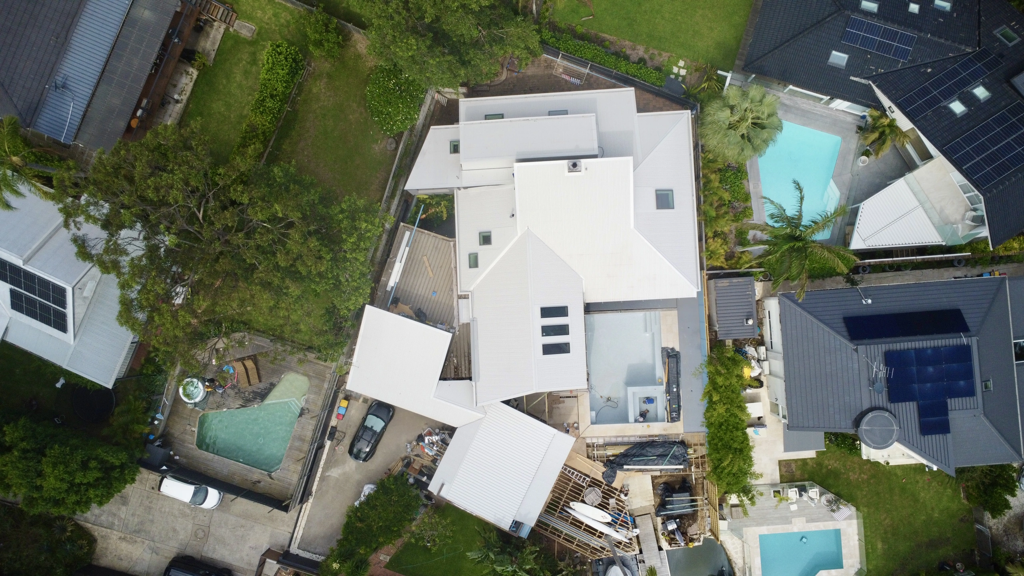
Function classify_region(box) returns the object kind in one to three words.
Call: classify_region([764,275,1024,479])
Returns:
house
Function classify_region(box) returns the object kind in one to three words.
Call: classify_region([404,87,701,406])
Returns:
house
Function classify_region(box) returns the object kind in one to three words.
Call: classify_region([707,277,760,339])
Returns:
shed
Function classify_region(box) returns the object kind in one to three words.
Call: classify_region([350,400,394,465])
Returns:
car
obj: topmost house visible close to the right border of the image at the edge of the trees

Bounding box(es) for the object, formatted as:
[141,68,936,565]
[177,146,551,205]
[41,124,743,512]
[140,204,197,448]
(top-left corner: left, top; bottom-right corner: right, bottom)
[717,0,1024,250]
